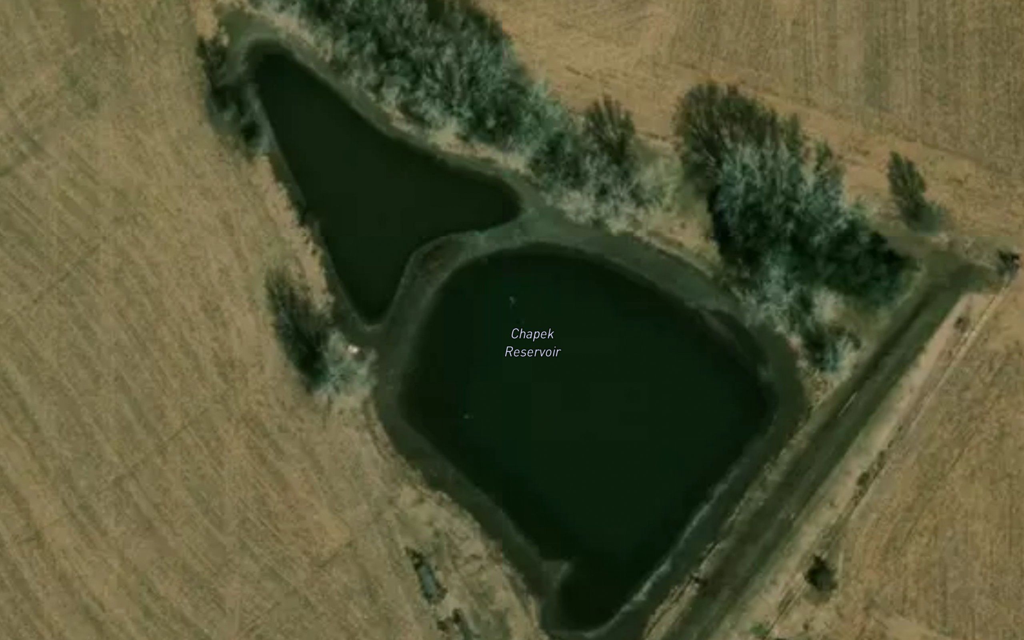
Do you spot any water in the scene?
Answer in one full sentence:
Yes, the picture does contain water.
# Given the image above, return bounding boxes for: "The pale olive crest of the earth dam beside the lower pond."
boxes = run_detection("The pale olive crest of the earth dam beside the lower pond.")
[642,278,912,640]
